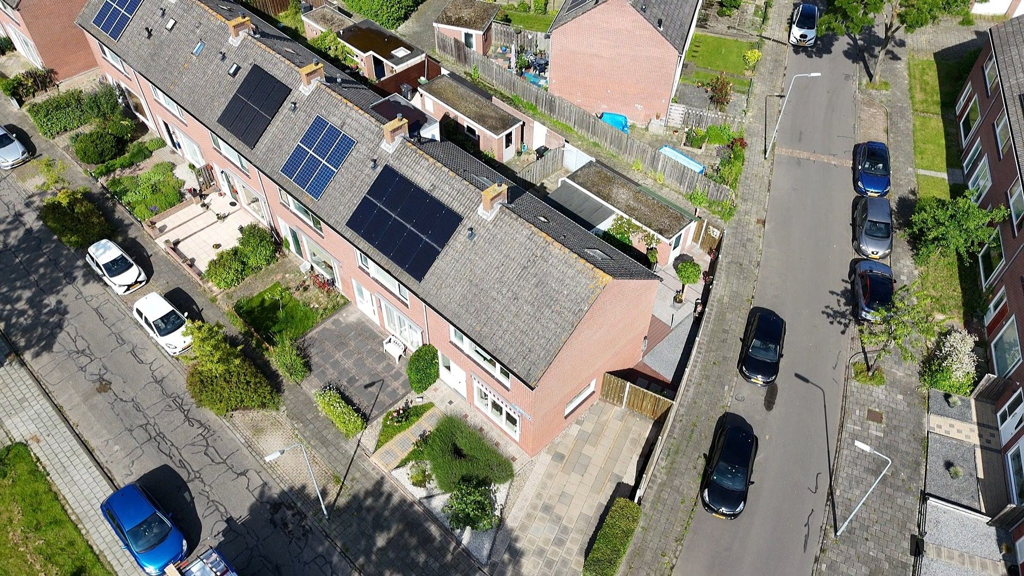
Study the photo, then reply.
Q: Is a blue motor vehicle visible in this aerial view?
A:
Yes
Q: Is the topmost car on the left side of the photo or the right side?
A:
right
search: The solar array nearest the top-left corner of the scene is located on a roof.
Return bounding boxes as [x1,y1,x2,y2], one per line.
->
[89,0,139,39]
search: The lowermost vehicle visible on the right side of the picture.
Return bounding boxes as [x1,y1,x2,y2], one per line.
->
[699,418,762,521]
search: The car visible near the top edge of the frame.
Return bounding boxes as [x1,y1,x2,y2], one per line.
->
[787,3,821,47]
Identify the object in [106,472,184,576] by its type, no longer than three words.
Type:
car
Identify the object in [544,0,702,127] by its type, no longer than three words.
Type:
house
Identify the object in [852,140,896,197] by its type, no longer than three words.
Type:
car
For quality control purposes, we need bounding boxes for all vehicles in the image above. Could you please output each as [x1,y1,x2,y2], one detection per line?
[852,140,896,197]
[852,195,899,262]
[0,123,28,172]
[131,290,195,359]
[787,3,821,47]
[737,307,789,387]
[89,236,149,297]
[850,265,899,329]
[699,418,762,521]
[106,472,184,576]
